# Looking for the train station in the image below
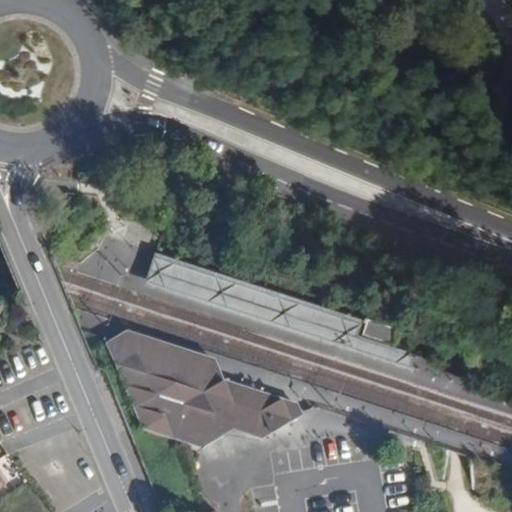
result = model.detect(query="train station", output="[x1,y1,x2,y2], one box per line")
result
[66,226,512,468]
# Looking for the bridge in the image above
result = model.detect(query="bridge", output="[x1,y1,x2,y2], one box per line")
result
[0,230,79,323]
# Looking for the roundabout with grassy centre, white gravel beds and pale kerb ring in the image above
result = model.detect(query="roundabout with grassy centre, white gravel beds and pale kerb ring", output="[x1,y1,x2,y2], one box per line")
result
[0,0,114,166]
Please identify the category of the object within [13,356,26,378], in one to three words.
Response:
vehicle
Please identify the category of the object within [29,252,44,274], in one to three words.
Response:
car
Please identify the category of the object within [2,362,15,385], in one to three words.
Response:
vehicle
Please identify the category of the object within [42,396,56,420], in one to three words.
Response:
car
